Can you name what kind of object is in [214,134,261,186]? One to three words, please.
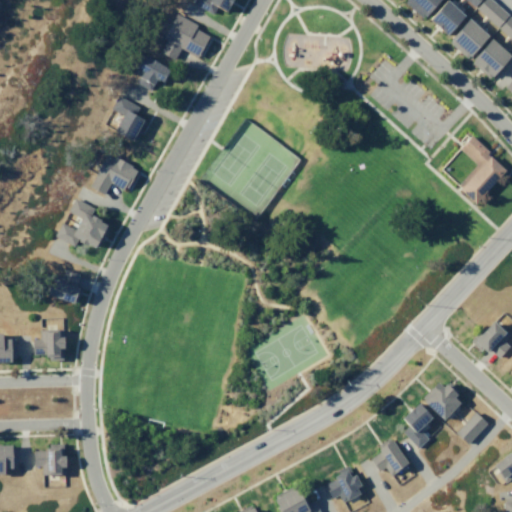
tennis court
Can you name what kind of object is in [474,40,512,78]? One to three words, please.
house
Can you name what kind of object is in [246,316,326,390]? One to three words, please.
basketball court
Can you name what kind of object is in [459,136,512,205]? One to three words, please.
building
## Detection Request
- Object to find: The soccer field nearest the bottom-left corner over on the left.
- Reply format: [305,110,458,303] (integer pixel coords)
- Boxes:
[105,258,244,431]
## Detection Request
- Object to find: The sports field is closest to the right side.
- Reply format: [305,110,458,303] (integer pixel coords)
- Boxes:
[310,148,444,342]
